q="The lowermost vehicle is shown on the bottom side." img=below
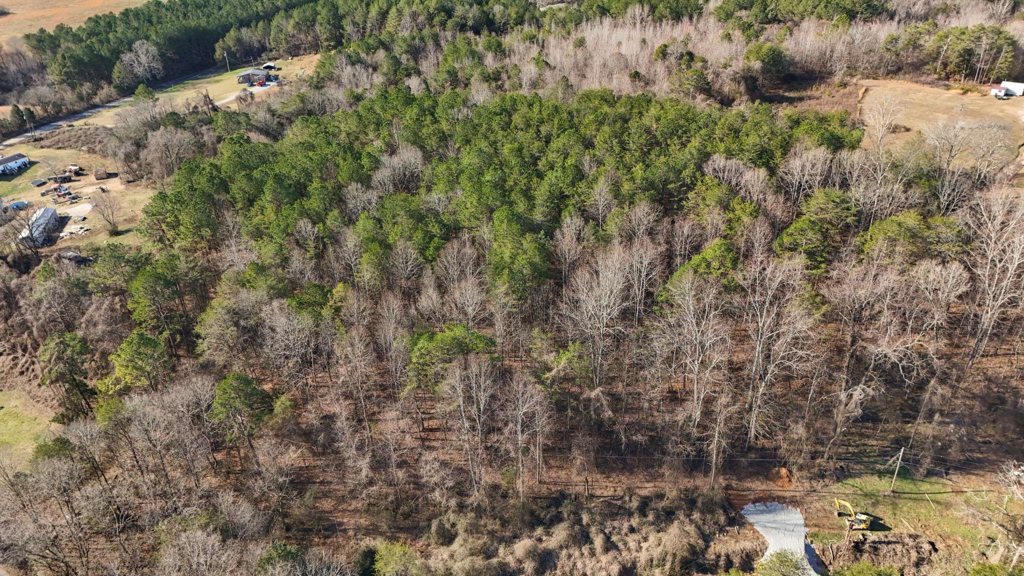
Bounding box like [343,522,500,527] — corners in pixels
[834,498,874,532]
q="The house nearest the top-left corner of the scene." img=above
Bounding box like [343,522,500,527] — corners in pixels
[0,151,39,179]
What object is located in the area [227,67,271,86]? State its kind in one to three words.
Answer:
house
